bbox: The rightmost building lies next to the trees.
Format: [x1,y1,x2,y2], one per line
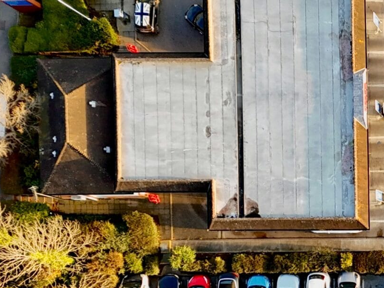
[35,0,373,233]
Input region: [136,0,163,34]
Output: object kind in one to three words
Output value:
car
